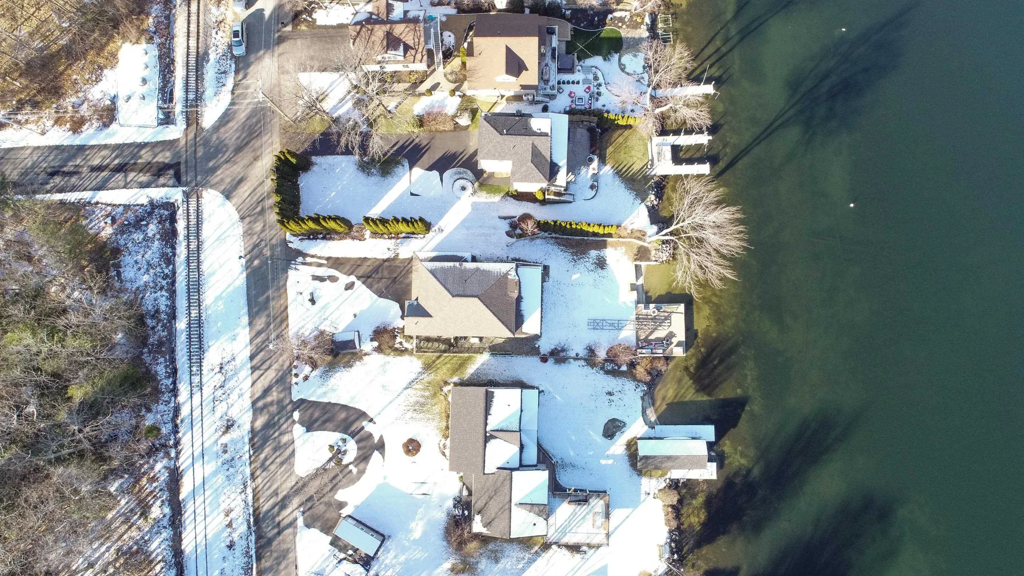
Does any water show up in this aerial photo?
Yes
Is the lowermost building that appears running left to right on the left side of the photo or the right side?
right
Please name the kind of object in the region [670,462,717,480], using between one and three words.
pier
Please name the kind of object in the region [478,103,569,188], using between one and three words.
house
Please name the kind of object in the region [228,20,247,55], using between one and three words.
car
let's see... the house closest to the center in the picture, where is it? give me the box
[404,252,541,337]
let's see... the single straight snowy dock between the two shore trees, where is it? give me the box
[653,66,720,99]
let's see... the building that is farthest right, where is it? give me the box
[633,437,708,469]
